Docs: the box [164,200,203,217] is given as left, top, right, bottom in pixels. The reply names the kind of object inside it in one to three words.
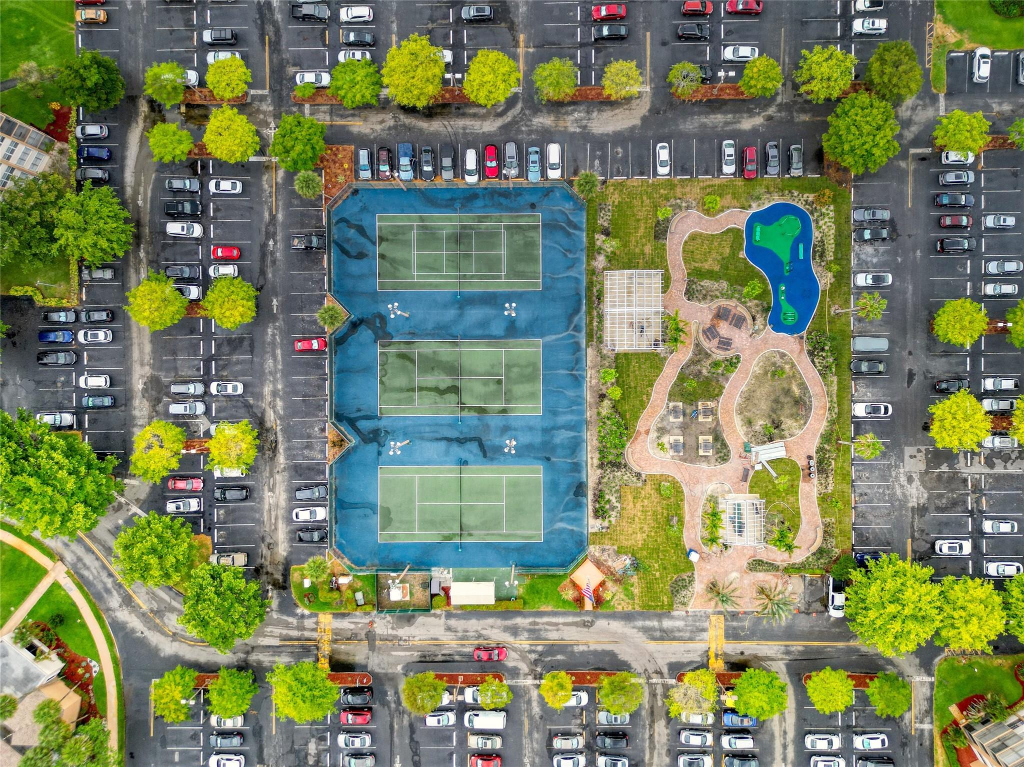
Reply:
vehicle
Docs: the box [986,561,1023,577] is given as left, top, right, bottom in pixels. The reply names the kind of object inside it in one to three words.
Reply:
car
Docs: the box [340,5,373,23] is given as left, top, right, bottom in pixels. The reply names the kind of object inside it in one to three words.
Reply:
car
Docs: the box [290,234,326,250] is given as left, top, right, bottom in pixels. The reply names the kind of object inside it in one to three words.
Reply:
vehicle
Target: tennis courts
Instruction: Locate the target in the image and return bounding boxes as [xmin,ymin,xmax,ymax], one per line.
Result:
[377,202,542,299]
[379,458,543,553]
[378,334,542,424]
